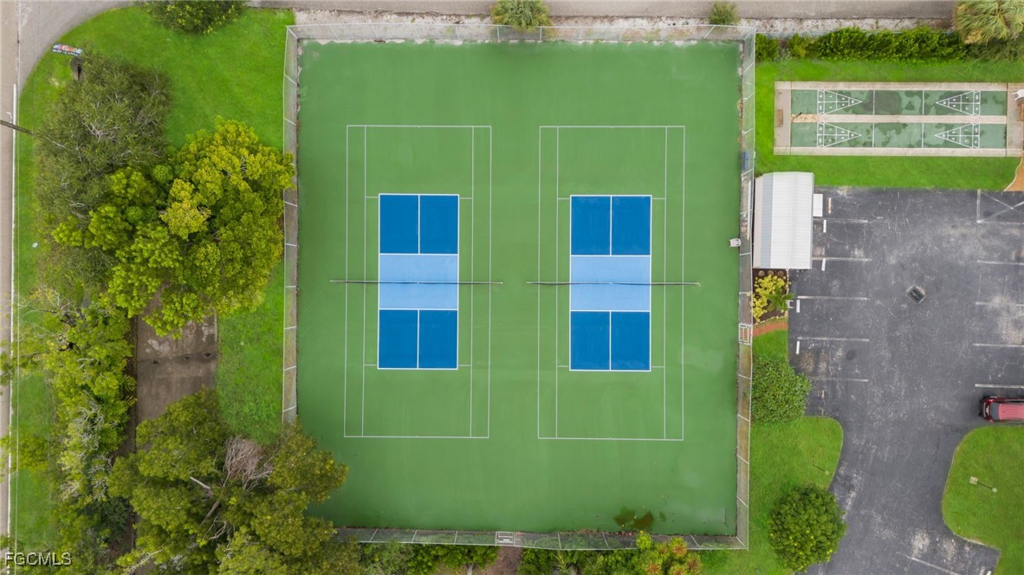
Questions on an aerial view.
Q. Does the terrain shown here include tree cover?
Yes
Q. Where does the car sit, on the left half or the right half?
right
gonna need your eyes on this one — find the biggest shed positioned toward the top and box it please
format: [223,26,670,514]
[755,172,815,268]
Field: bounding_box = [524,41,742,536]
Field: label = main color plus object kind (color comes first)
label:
green sports court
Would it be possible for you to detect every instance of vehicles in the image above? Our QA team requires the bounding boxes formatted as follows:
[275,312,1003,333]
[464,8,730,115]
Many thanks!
[986,396,1024,424]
